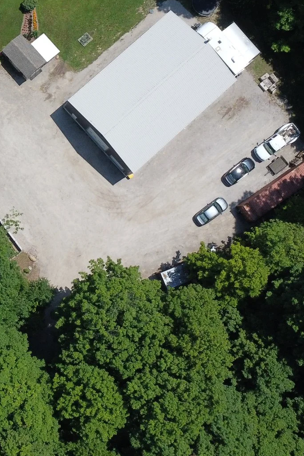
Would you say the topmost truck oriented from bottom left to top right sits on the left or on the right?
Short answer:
right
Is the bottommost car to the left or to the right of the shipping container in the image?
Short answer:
left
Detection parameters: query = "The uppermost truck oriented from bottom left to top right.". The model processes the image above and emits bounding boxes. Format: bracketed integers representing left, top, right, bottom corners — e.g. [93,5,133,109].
[250,122,302,165]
